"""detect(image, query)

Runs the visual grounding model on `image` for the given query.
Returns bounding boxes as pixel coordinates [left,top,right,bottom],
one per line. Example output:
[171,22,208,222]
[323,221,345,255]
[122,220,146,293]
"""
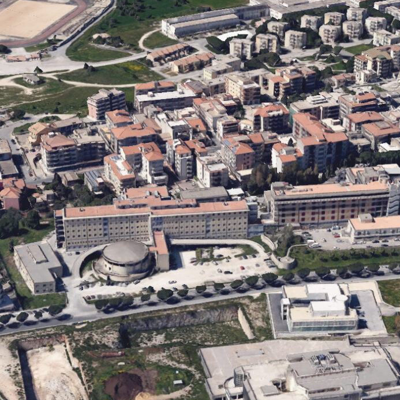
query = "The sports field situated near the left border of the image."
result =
[0,0,78,38]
